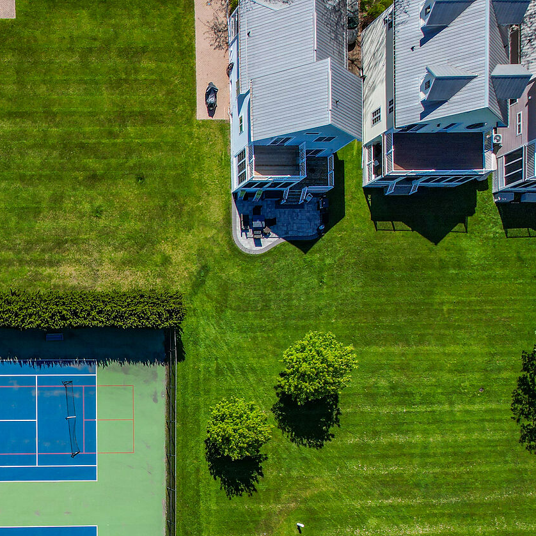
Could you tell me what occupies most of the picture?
grass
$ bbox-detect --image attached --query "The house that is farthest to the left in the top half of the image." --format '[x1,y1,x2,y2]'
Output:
[221,0,362,206]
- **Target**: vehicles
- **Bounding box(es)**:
[345,0,363,47]
[209,82,224,108]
